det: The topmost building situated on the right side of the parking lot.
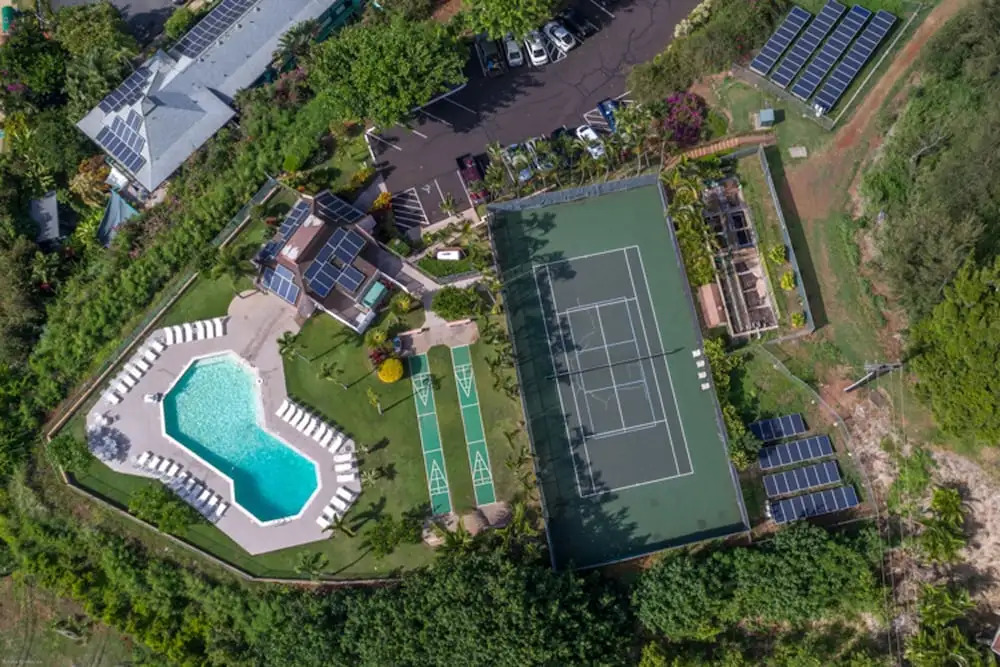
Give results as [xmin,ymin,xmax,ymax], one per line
[751,109,774,130]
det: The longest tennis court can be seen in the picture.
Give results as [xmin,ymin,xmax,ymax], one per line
[489,185,741,564]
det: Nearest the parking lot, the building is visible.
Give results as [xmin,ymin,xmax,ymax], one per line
[252,188,383,335]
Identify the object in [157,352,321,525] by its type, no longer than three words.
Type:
swimming pool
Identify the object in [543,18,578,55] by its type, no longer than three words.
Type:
car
